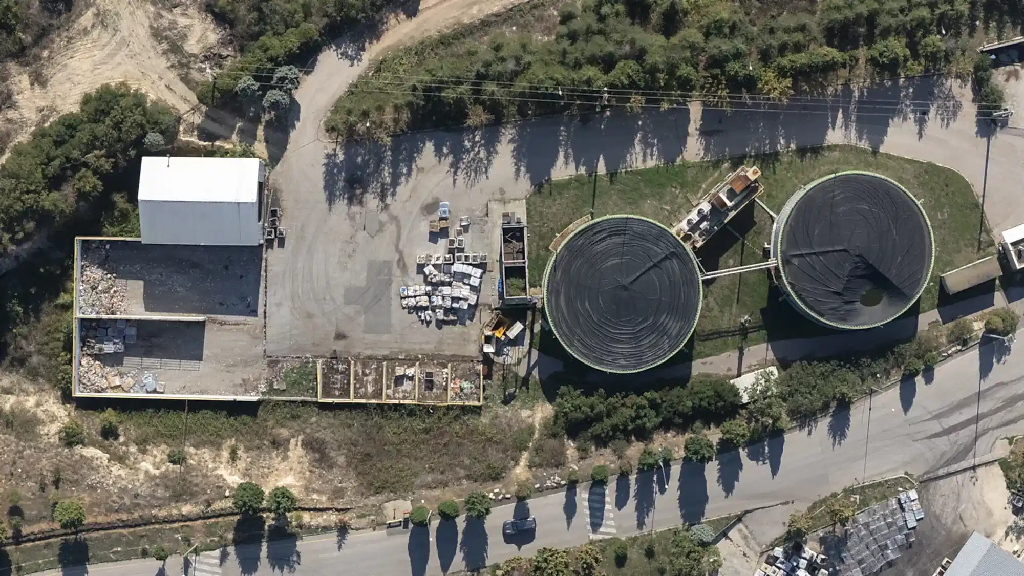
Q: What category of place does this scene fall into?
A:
industrial area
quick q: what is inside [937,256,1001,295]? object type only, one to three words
shed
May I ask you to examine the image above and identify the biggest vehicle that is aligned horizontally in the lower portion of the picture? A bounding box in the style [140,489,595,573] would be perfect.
[503,517,536,535]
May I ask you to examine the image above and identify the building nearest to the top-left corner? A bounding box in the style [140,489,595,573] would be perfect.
[136,156,268,246]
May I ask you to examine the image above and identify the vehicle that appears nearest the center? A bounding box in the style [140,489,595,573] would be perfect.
[483,313,509,354]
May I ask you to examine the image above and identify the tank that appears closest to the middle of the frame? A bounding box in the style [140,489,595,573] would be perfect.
[540,211,703,376]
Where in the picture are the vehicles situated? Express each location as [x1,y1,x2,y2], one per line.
[503,517,536,535]
[483,313,509,354]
